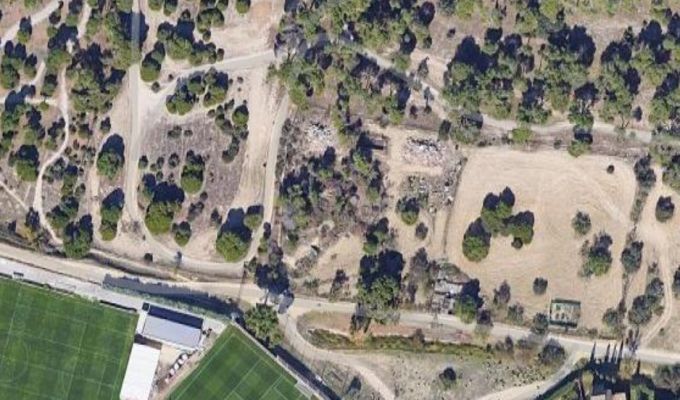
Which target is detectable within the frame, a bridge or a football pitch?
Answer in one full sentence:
It is a football pitch that can be seen here.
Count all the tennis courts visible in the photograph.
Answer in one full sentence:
I count no tennis courts.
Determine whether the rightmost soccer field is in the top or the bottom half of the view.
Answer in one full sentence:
You can find the rightmost soccer field in the bottom half.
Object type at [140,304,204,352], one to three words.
building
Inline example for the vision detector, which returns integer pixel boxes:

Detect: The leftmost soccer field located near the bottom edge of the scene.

[0,281,137,400]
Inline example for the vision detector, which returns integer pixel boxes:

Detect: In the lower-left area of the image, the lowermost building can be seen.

[119,344,159,400]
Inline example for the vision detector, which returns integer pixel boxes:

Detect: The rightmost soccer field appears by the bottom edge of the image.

[176,323,325,400]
